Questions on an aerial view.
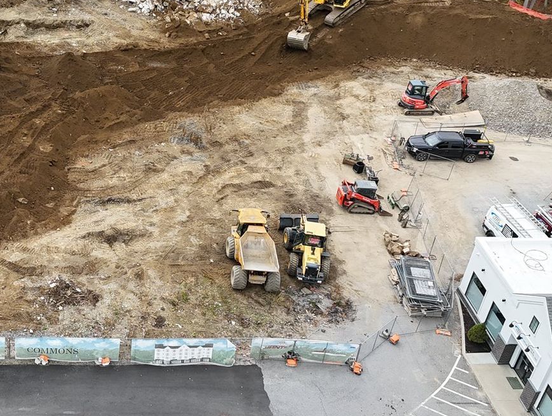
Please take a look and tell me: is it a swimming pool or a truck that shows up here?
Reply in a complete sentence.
This aerial view contains a truck.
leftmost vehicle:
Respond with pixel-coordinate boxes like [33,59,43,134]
[227,207,283,293]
